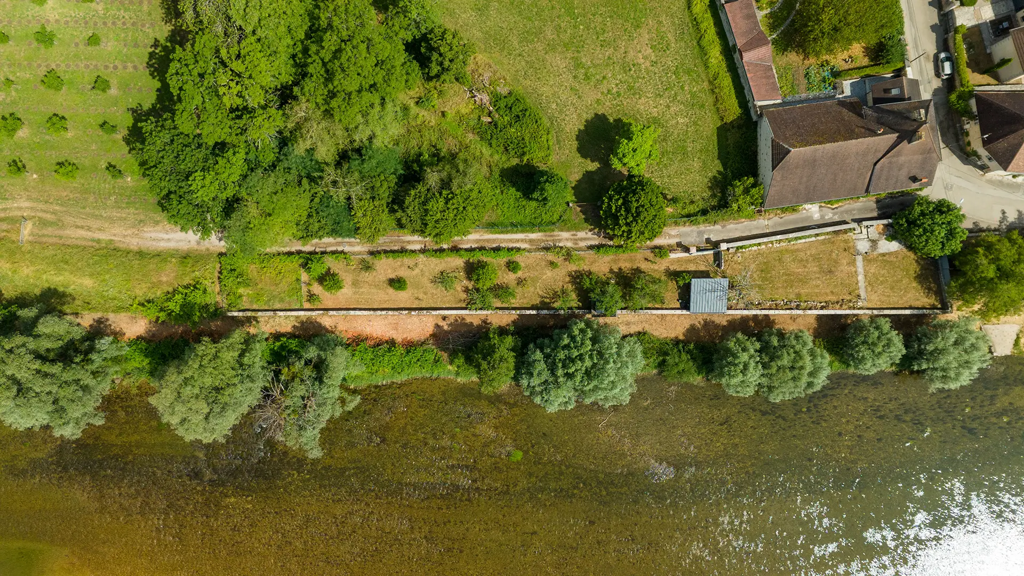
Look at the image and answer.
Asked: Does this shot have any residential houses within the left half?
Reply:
No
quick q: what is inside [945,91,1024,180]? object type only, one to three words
house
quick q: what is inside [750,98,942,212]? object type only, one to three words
house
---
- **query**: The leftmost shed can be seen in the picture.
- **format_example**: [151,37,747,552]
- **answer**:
[687,278,729,313]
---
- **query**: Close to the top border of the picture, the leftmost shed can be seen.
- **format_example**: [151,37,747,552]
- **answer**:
[722,0,781,109]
